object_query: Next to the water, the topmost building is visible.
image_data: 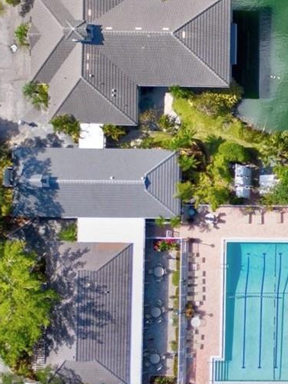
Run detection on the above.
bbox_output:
[30,0,242,126]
